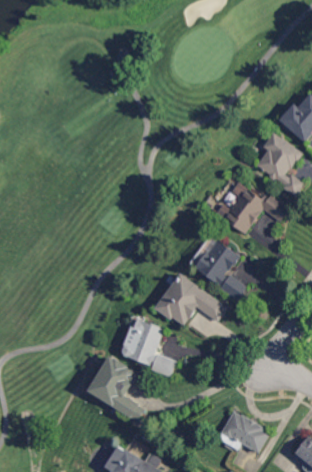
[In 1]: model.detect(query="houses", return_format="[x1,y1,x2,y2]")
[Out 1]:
[280,93,312,140]
[296,438,312,472]
[221,412,270,455]
[218,182,284,234]
[88,356,146,423]
[104,447,164,472]
[192,238,246,298]
[260,132,304,195]
[122,318,176,376]
[156,274,228,328]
